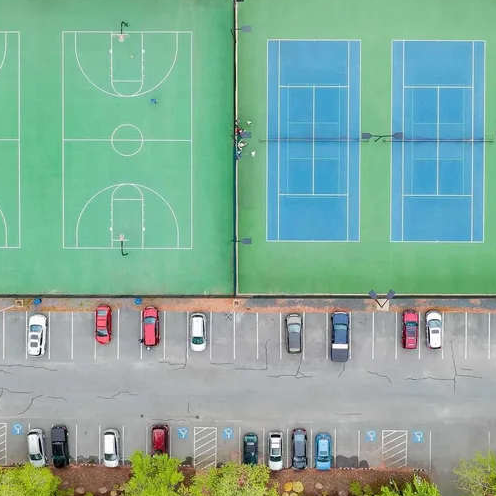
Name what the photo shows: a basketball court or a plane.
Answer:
basketball court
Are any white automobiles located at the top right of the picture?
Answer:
No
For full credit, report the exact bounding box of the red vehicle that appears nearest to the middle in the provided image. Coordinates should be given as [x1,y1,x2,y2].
[142,306,160,347]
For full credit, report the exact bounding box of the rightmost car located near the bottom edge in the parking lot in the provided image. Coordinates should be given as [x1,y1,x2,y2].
[315,433,333,473]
